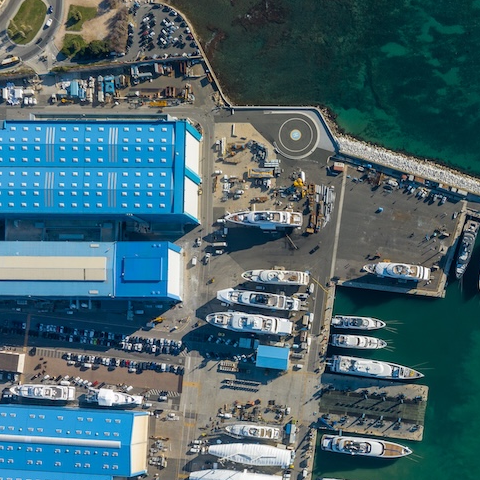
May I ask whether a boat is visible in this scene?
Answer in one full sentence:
Yes, a boat is visible in the scene.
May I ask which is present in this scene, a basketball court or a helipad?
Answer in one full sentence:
I can see a helipad in this picture.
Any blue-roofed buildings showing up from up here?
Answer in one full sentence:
Yes, looking at the shot, I can spot a blue-roofed building.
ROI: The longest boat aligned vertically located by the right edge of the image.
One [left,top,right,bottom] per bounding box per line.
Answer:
[456,212,478,282]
